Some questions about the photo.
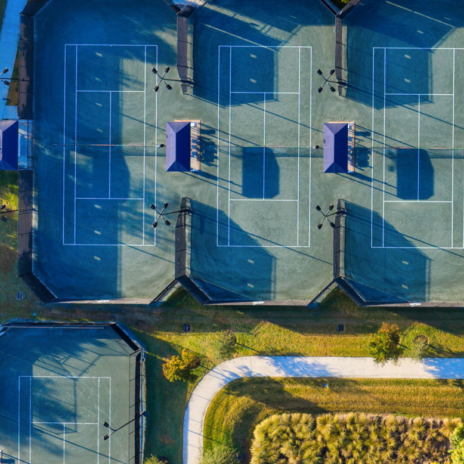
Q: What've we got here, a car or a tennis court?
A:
tennis court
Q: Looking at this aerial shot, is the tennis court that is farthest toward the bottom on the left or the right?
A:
left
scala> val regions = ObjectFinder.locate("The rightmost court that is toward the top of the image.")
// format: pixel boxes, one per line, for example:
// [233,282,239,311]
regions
[341,0,464,303]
